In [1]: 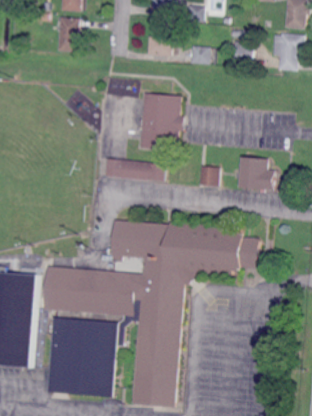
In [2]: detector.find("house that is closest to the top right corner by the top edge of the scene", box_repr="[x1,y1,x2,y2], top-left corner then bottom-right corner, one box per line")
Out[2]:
[286,0,312,30]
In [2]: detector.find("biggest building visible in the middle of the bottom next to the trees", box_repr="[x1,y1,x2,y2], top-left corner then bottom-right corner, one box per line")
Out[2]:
[46,220,262,408]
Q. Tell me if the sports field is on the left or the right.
left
